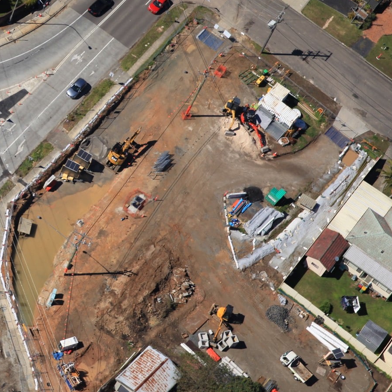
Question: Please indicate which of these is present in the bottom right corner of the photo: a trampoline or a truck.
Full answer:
It is a truck that can be seen in the bottom right corner of the photo.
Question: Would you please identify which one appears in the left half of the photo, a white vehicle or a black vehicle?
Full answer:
It is a black vehicle that can be seen in the left half of the photo.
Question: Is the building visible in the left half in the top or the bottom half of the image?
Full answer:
The bottom half of the photo is where the building visible in the left half is.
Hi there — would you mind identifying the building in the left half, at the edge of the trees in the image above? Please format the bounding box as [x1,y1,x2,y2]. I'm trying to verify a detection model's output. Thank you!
[111,347,181,392]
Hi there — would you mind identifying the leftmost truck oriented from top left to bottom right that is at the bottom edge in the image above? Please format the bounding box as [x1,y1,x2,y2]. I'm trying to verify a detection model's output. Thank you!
[275,346,317,386]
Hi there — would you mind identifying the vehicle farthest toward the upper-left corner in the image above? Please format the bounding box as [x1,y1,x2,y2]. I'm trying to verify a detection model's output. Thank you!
[88,0,113,16]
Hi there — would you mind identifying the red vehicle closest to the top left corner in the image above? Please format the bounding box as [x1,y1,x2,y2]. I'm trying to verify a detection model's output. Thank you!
[145,0,172,16]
